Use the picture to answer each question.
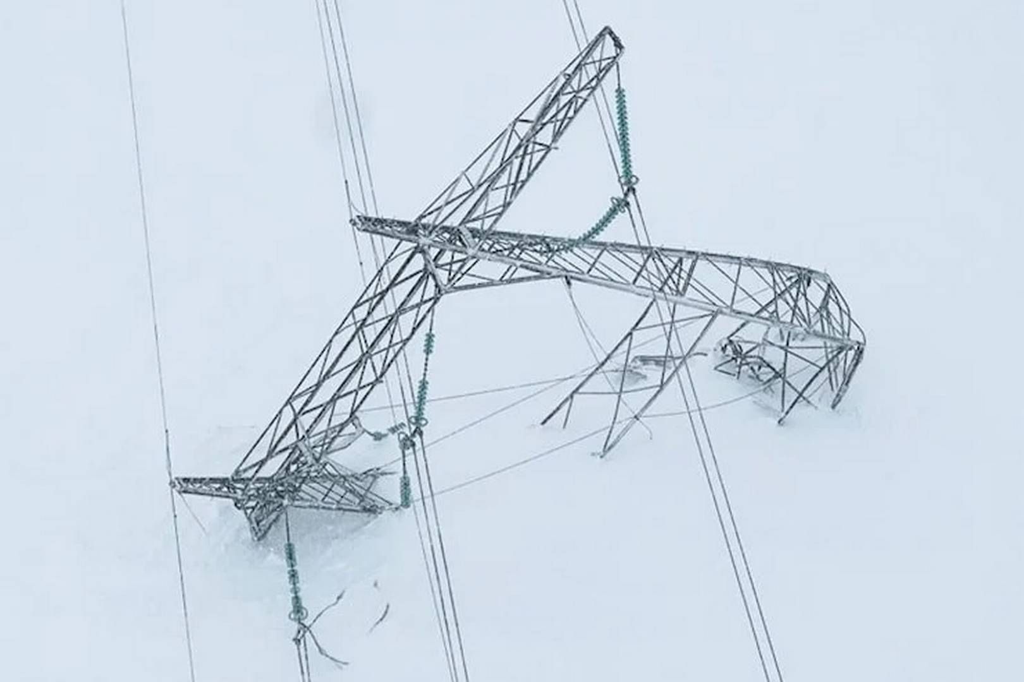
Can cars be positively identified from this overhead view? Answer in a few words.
No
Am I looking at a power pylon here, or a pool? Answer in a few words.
power pylon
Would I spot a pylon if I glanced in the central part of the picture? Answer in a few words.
Yes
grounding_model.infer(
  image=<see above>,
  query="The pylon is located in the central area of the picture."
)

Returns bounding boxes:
[176,26,866,540]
